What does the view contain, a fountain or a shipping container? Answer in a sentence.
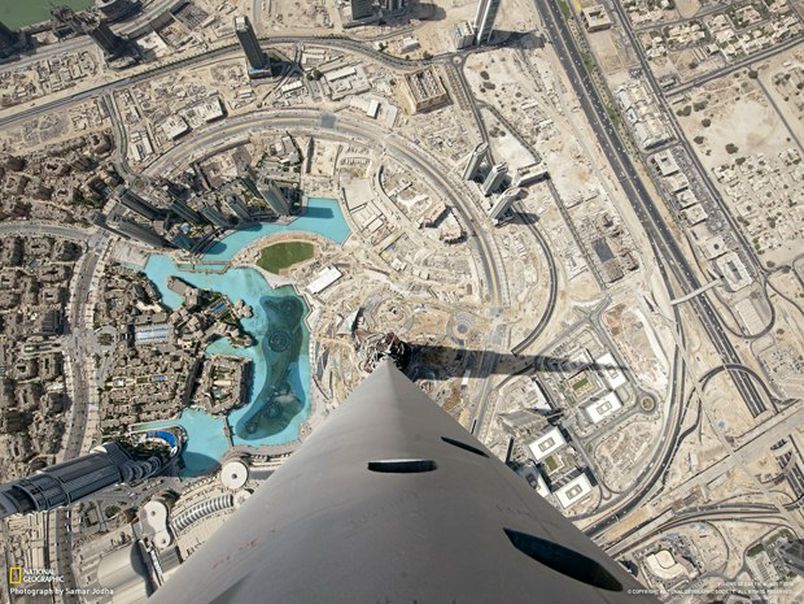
There is a fountain in the scene.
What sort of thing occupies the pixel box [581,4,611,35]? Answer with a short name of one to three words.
building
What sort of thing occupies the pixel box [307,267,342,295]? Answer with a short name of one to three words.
shed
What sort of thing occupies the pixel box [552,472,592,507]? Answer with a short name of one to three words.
building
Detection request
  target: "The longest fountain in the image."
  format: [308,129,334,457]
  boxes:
[236,289,304,440]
